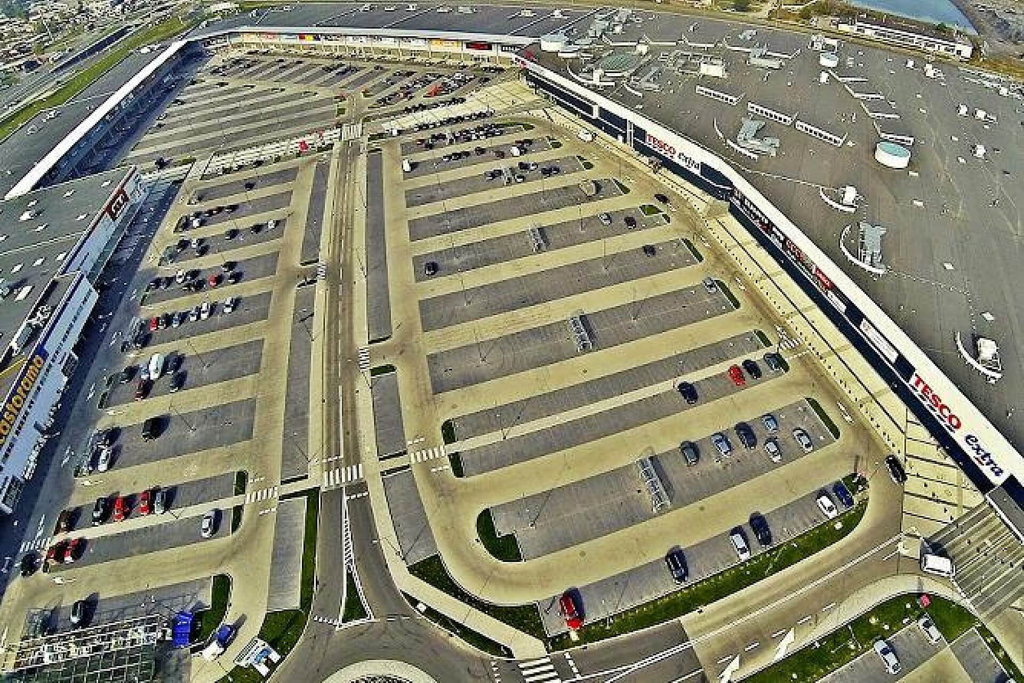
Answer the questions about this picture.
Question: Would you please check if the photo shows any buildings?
Yes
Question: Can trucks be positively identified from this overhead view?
Yes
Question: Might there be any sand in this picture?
No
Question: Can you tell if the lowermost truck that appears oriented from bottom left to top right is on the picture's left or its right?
left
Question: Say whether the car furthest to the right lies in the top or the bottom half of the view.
bottom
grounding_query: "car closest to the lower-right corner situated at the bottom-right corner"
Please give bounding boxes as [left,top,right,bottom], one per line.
[983,656,1023,683]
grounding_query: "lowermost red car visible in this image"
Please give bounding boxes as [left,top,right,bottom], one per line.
[559,590,583,628]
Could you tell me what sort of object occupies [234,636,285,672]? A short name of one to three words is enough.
trailer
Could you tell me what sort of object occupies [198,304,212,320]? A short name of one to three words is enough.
car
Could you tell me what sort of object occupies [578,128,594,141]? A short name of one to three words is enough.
vehicle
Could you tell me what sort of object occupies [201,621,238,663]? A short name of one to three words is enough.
truck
